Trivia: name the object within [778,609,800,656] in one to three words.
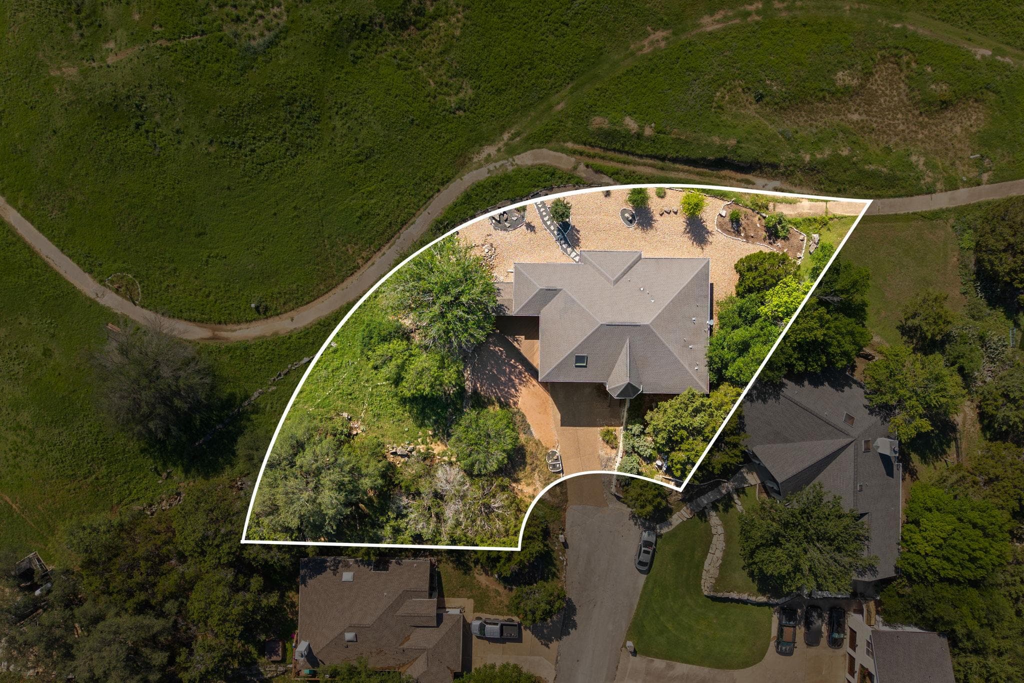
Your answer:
car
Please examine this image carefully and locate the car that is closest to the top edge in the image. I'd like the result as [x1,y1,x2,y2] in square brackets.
[636,532,658,574]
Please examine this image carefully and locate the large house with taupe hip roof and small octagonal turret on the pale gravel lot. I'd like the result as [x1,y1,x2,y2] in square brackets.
[513,250,715,399]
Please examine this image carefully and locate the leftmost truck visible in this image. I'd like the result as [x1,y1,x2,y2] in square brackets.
[470,619,519,643]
